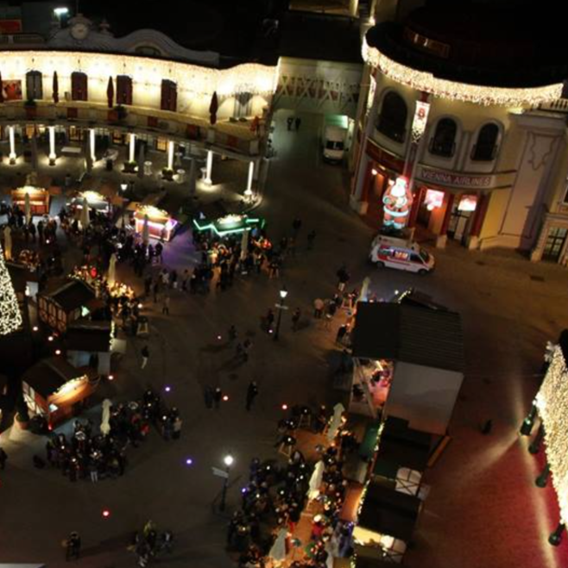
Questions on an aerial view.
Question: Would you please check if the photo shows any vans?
Yes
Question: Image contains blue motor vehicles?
No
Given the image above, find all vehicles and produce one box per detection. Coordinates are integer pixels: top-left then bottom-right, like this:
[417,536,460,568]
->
[315,118,349,165]
[369,230,446,276]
